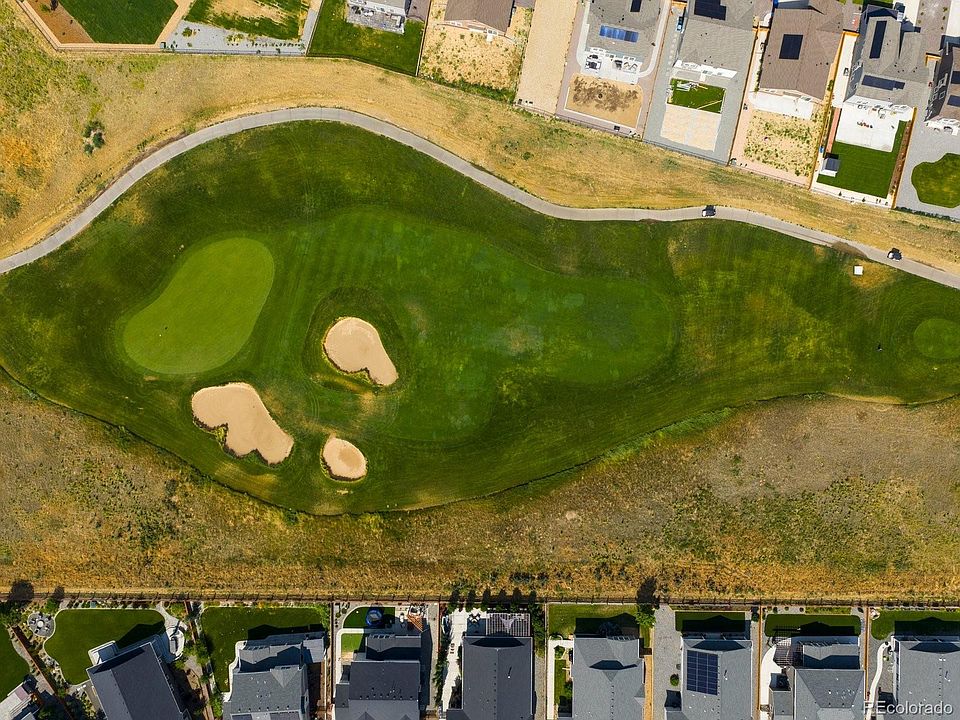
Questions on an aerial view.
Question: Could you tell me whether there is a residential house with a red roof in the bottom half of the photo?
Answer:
No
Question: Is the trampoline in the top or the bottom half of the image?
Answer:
bottom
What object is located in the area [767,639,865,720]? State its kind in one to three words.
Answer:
house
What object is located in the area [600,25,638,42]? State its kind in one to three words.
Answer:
solar panel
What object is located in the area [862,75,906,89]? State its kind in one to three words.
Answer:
solar panel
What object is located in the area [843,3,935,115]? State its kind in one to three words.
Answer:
house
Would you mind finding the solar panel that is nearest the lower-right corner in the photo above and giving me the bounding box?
[687,651,717,696]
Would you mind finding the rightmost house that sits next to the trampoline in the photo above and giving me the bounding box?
[334,633,422,720]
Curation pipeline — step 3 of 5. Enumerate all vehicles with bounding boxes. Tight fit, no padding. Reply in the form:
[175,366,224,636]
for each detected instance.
[700,210,717,218]
[884,252,903,262]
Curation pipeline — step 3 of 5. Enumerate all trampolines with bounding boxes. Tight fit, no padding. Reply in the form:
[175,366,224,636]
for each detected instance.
[364,608,383,630]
